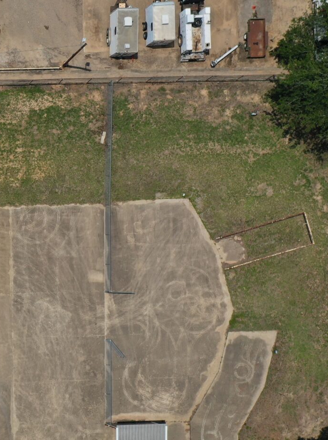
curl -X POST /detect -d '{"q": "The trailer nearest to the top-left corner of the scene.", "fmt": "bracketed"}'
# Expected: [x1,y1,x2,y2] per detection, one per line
[107,5,139,59]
